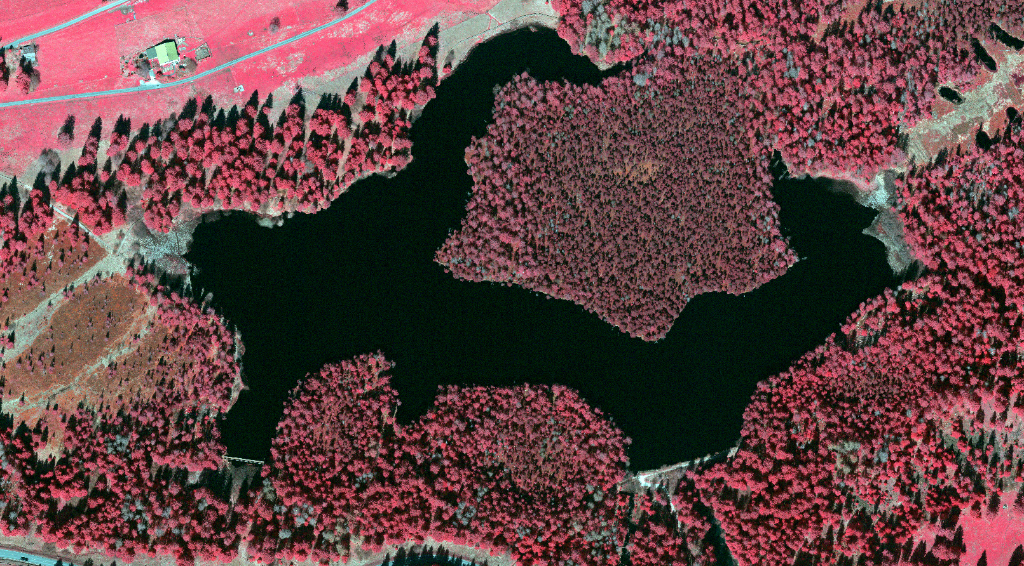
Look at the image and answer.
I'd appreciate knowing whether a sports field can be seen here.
No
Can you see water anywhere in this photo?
Yes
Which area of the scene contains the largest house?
top left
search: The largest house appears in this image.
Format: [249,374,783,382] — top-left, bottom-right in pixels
[154,41,178,66]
